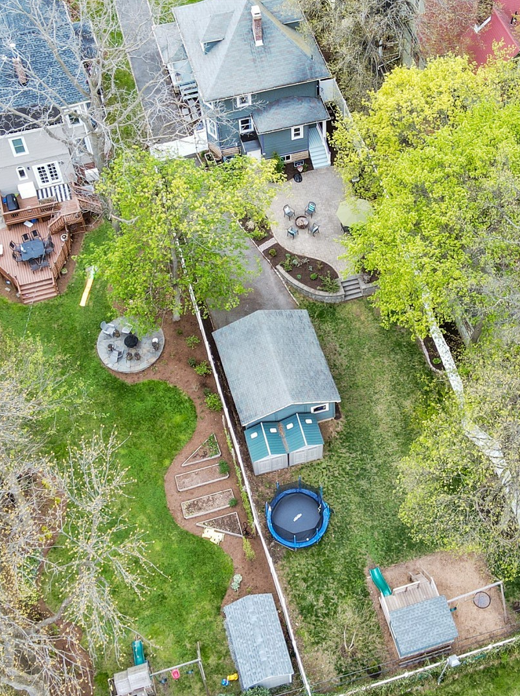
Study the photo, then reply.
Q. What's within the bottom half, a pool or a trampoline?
trampoline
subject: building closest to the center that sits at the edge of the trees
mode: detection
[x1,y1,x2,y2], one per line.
[215,309,339,431]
